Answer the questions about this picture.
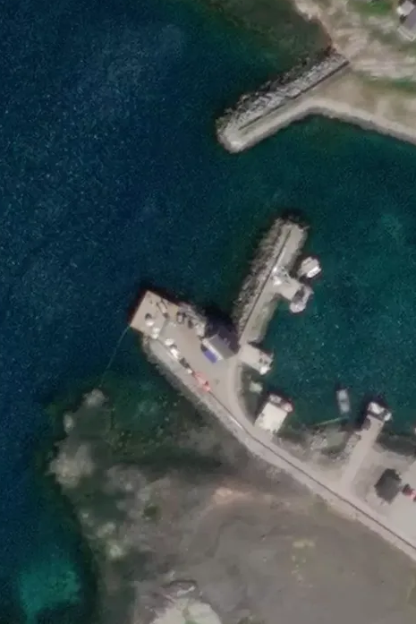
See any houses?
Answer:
Yes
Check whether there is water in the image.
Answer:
Yes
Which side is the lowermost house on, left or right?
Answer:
right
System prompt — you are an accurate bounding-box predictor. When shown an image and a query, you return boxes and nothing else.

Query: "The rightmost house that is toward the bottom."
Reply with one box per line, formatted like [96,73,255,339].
[372,468,406,502]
